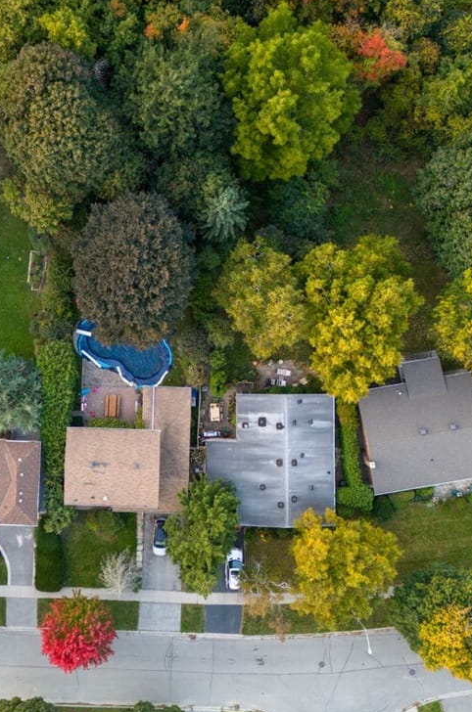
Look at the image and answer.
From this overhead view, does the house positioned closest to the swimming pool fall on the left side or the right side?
left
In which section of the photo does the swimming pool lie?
left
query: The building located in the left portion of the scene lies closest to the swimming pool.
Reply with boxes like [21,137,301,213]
[63,385,193,513]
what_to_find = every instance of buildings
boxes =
[351,351,472,495]
[203,392,336,529]
[0,439,41,526]
[63,385,193,513]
